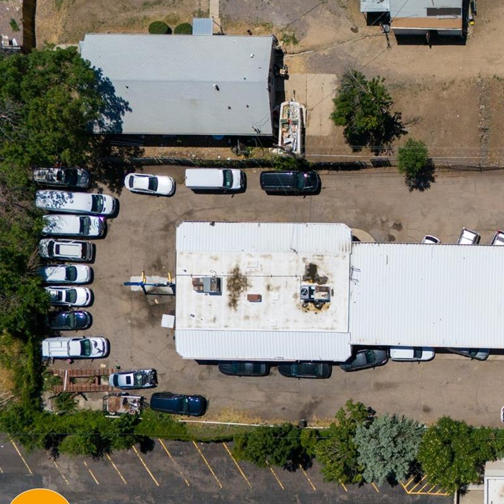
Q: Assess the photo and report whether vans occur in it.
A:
Yes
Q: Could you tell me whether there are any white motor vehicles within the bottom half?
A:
Yes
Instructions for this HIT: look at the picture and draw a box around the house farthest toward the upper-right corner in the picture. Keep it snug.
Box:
[389,0,463,42]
